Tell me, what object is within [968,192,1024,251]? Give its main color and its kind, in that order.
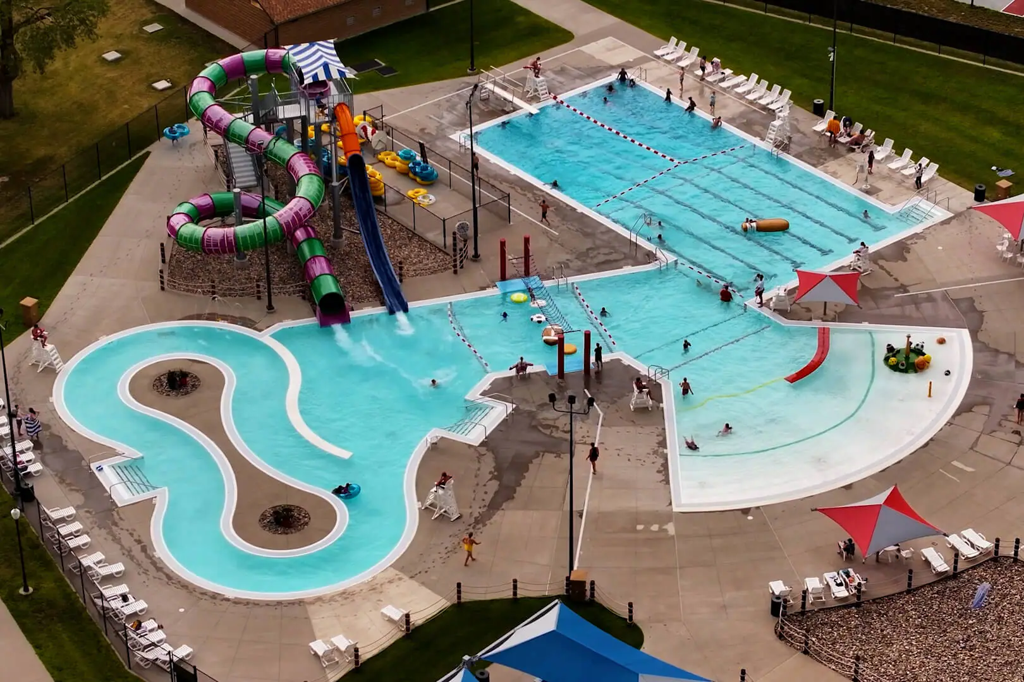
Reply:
red umbrella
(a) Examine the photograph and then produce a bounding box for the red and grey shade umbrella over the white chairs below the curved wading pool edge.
[811,485,951,567]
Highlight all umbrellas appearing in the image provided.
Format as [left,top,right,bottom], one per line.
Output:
[811,485,951,567]
[791,270,863,325]
[968,192,1024,251]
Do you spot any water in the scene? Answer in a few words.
Yes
